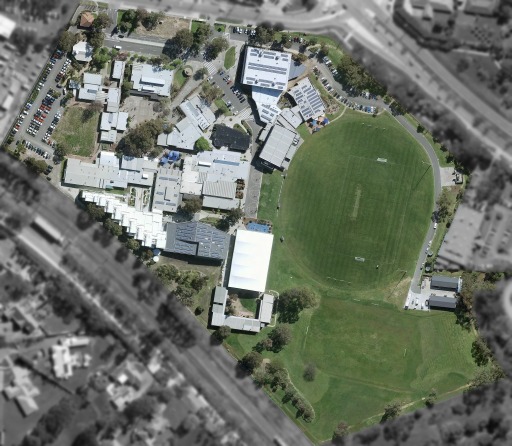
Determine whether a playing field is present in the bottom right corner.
Yes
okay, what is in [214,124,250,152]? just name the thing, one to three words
building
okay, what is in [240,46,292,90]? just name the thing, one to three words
building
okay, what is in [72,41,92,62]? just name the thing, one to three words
house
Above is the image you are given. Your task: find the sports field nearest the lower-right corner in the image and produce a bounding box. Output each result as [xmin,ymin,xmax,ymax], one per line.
[310,296,478,393]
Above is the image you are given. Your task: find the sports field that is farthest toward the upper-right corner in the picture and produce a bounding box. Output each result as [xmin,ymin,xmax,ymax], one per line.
[278,108,434,292]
